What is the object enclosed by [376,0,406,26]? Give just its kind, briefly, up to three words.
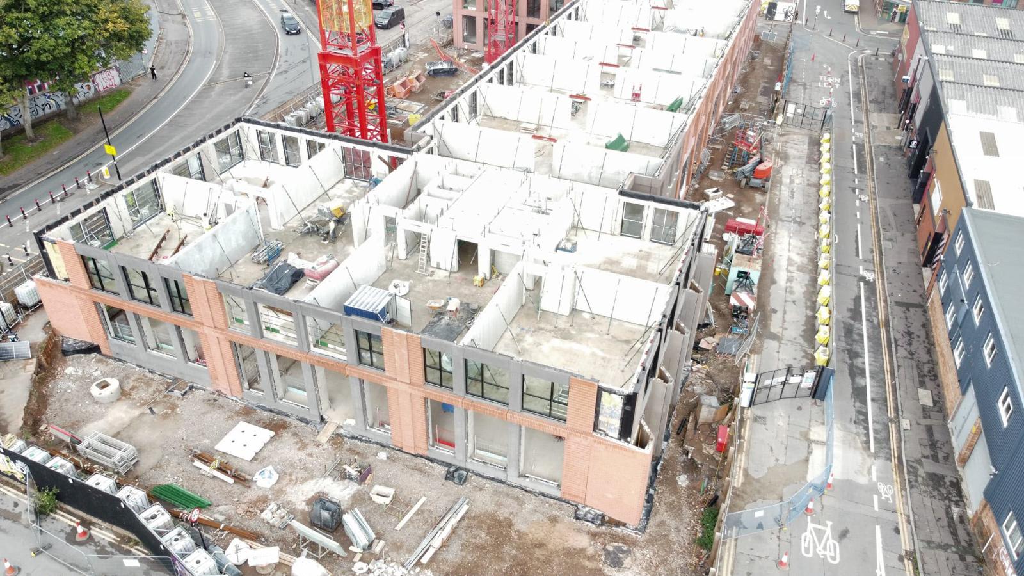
vehicle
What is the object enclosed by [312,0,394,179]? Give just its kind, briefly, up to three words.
crane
